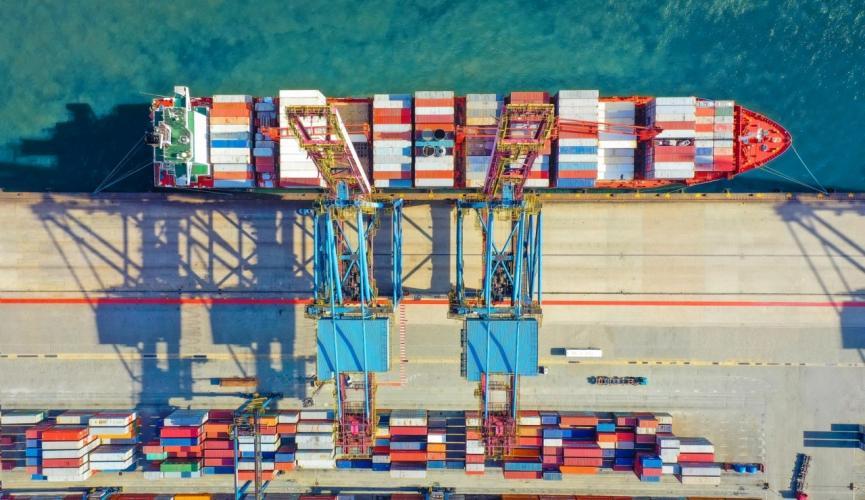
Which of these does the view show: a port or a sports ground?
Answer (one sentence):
This image shows a port.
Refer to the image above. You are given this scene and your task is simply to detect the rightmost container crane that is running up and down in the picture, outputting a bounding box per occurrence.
[443,105,556,470]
